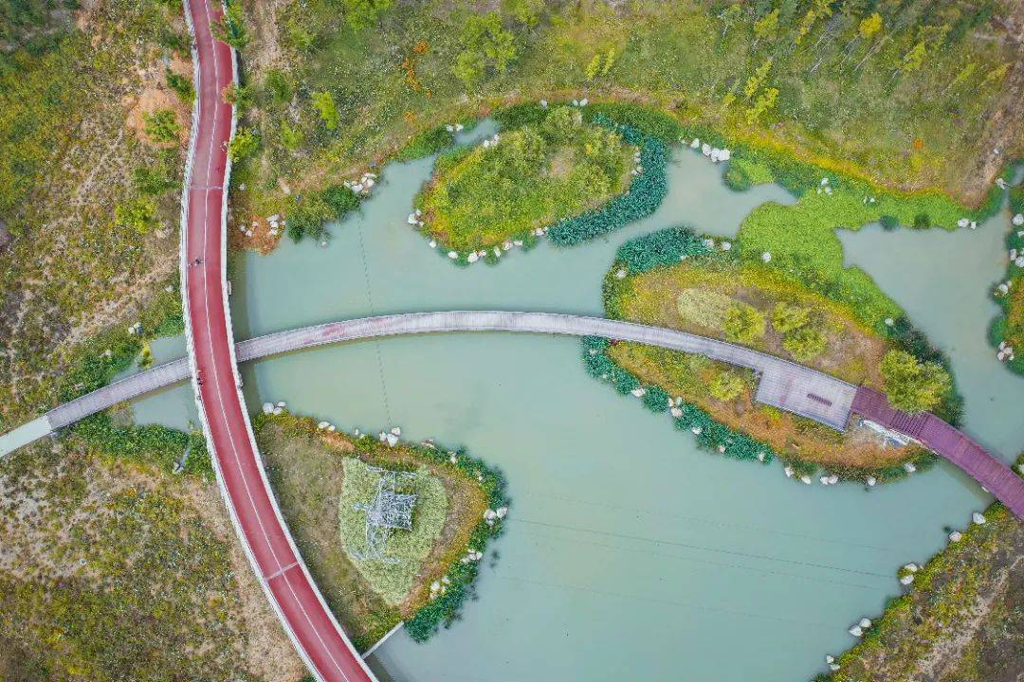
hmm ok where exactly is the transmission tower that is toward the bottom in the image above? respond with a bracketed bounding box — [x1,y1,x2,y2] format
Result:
[352,467,418,563]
